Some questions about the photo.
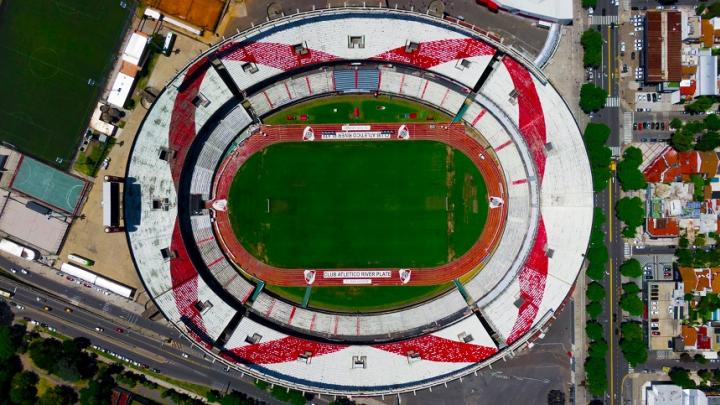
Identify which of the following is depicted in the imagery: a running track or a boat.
running track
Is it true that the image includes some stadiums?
Yes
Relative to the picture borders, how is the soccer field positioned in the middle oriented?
from left to right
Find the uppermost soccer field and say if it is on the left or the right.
left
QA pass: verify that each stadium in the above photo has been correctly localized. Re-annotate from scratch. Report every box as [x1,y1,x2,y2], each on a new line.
[125,3,594,401]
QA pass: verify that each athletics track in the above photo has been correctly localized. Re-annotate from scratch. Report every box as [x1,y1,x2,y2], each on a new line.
[214,122,504,286]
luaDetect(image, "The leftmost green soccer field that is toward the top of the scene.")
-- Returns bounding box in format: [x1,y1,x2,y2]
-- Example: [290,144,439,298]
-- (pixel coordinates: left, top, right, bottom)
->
[0,0,141,171]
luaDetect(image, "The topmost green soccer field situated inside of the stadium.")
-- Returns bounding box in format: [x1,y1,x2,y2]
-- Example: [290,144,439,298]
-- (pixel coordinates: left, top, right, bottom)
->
[229,140,487,269]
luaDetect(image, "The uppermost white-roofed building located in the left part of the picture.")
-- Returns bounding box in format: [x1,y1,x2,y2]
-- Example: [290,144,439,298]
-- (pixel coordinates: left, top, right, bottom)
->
[122,33,151,66]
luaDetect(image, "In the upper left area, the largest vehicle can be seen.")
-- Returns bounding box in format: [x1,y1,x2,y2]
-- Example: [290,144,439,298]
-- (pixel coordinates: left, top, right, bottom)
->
[162,32,176,55]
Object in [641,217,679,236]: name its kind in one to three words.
house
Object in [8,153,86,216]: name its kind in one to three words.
sports court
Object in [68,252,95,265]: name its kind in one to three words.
vehicle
